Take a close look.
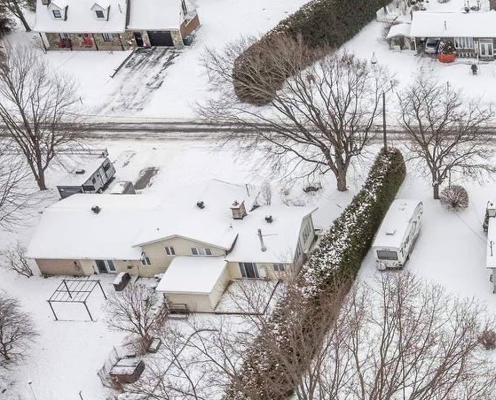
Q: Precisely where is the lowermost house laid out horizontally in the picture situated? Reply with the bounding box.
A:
[27,181,338,318]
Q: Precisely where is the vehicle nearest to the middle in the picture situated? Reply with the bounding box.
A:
[115,180,154,195]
